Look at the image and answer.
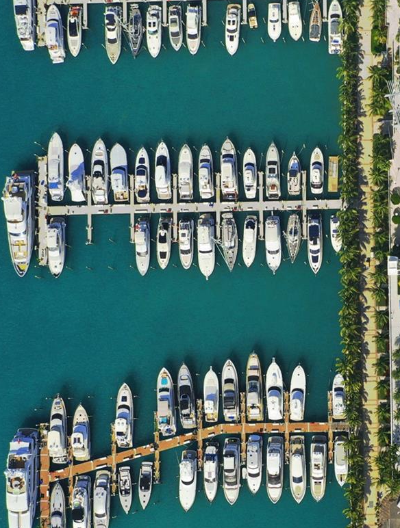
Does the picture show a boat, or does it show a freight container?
boat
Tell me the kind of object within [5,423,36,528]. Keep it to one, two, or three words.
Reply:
boat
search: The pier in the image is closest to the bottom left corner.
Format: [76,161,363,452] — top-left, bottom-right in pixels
[41,391,341,528]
